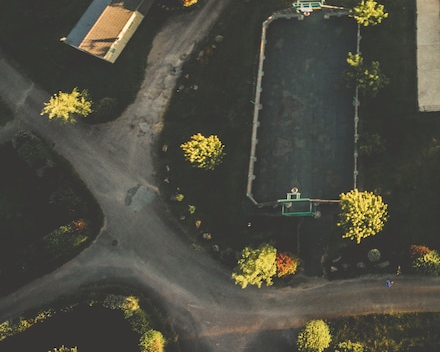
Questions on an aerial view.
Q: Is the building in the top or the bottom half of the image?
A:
top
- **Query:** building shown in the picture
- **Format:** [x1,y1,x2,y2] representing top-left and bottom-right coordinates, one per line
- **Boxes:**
[64,0,158,63]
